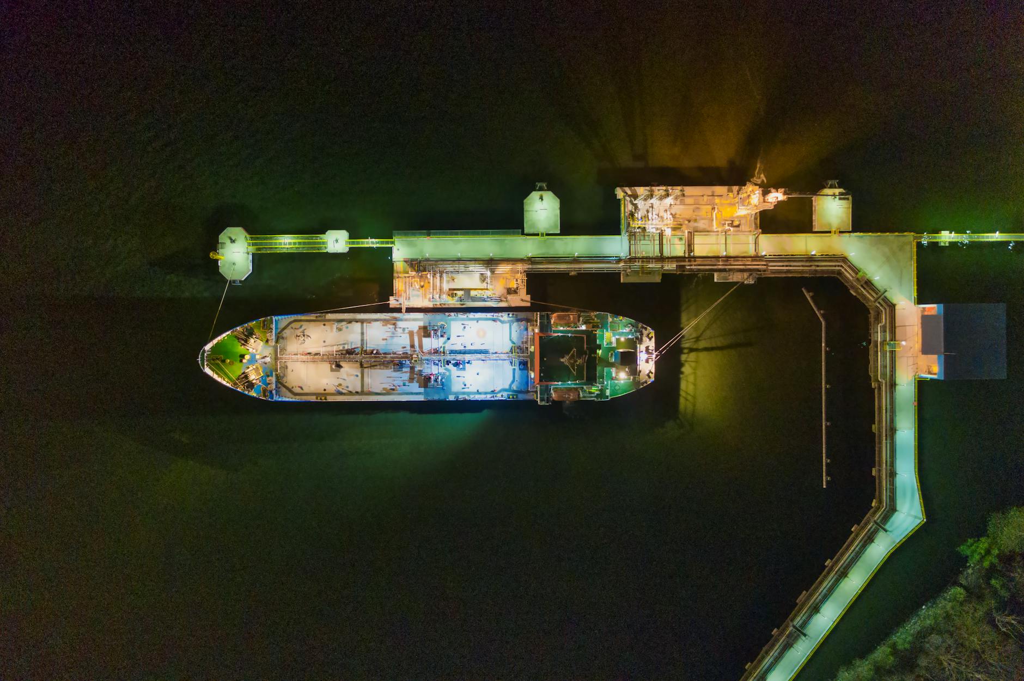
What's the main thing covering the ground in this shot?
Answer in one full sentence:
Most of the picture is covered by water.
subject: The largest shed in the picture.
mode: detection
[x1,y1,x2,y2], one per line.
[915,303,1008,379]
